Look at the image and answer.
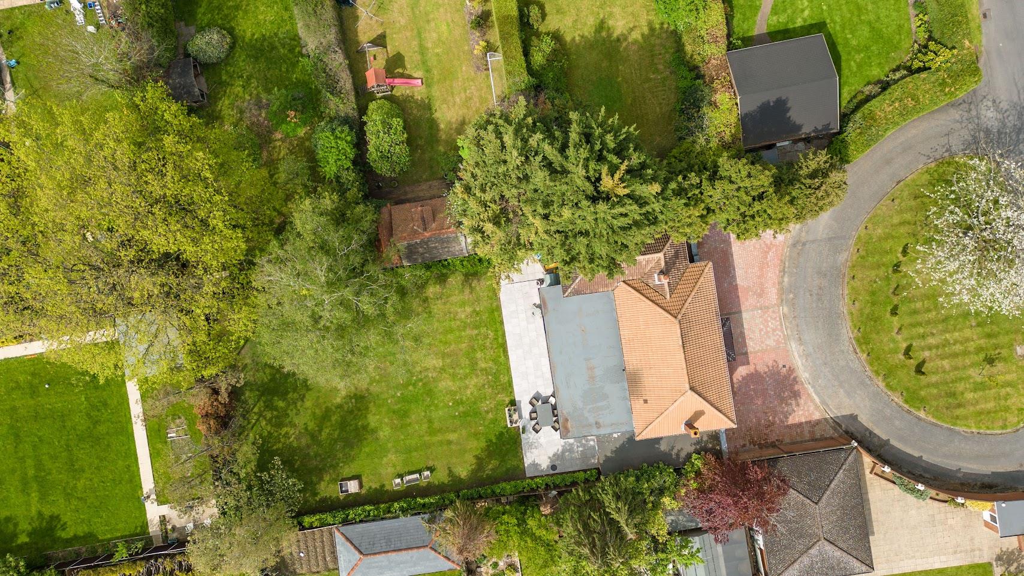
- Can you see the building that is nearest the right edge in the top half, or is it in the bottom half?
bottom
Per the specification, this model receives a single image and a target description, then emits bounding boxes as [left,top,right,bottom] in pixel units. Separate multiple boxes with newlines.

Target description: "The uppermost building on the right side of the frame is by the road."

[727,32,840,150]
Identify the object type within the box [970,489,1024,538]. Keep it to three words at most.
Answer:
building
